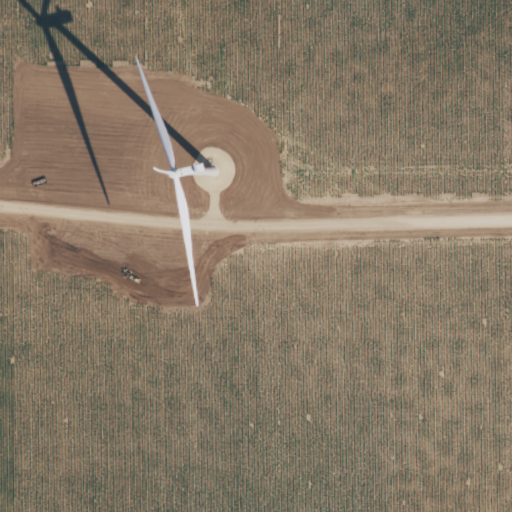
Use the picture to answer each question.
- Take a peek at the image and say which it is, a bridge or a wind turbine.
wind turbine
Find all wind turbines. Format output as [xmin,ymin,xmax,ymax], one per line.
[134,56,220,305]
